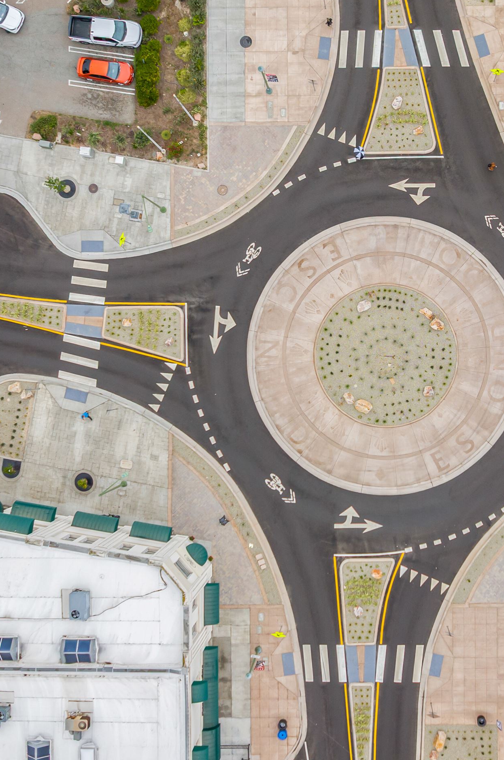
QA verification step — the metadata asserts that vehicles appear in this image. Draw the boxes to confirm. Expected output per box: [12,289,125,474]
[0,0,27,36]
[75,57,137,87]
[66,14,144,49]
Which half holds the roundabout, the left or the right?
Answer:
right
